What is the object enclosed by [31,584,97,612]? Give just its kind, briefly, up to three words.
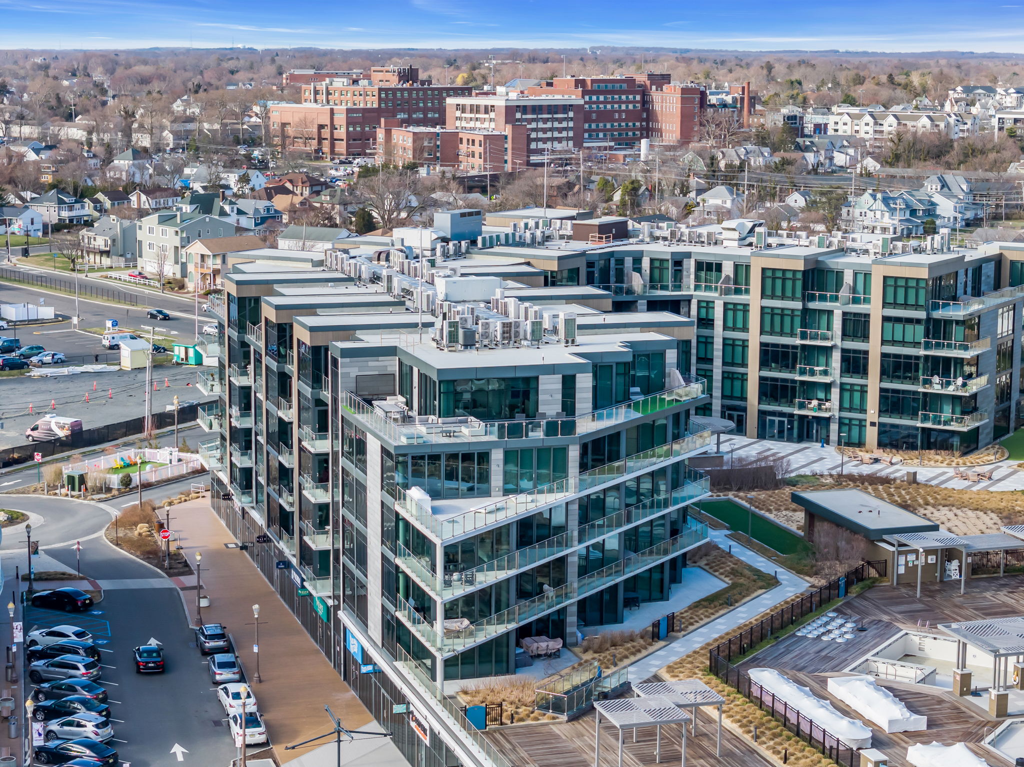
car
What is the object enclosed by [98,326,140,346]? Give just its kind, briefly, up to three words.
vehicle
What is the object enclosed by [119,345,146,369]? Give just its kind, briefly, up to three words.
shed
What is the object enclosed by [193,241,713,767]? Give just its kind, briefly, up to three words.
building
